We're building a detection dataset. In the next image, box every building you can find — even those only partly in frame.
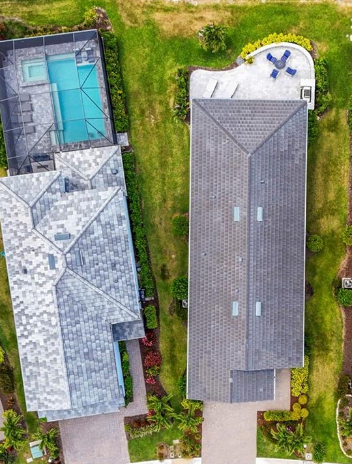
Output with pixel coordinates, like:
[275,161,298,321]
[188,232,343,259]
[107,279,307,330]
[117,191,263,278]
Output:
[186,98,309,404]
[0,144,147,420]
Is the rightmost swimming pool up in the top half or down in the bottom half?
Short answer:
top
